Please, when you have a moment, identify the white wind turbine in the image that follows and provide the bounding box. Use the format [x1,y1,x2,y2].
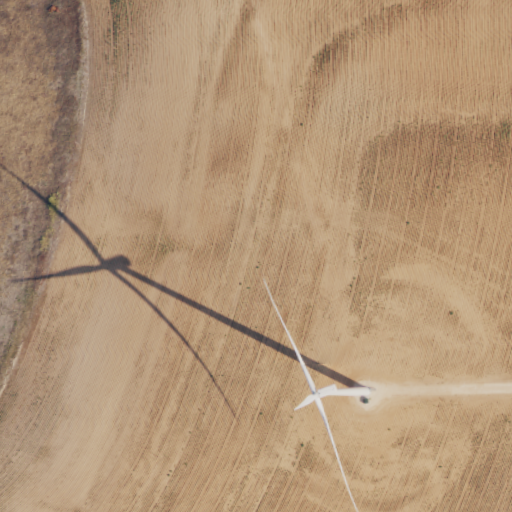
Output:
[261,274,376,512]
